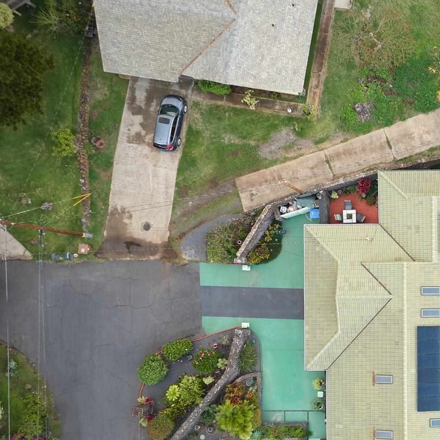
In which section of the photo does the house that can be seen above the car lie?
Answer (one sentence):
The house that can be seen above the car appears toward the top of the photo.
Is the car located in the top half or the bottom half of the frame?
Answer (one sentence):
The car is in the top half of the image.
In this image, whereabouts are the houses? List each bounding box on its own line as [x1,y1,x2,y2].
[90,0,319,96]
[303,170,440,440]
